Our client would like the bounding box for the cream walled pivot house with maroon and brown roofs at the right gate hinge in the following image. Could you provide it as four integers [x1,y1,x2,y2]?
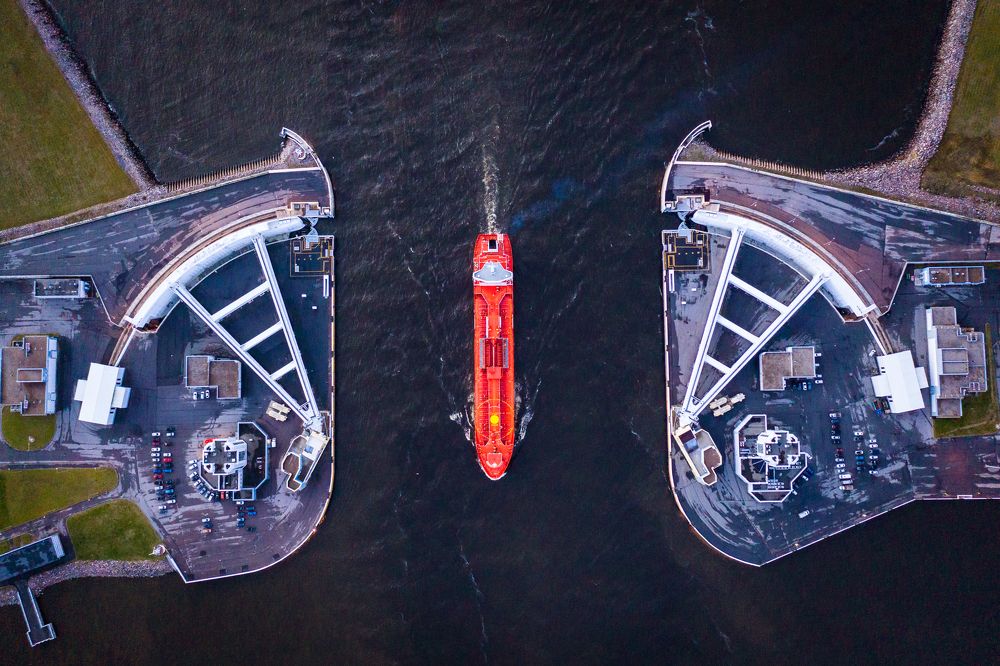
[672,424,721,486]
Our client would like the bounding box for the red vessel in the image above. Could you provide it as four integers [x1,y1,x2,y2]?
[473,234,515,479]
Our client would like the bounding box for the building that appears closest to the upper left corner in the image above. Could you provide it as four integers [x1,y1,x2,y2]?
[34,280,89,298]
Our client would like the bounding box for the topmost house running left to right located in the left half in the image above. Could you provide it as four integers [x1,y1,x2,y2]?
[277,202,321,218]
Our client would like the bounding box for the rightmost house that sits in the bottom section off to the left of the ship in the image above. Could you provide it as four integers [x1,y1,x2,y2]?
[281,431,332,490]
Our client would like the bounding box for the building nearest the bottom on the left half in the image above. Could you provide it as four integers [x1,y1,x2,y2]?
[0,533,65,584]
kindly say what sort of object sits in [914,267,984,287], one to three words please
building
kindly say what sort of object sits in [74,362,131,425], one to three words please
house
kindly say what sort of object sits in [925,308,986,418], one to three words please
building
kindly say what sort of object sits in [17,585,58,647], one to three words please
pier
